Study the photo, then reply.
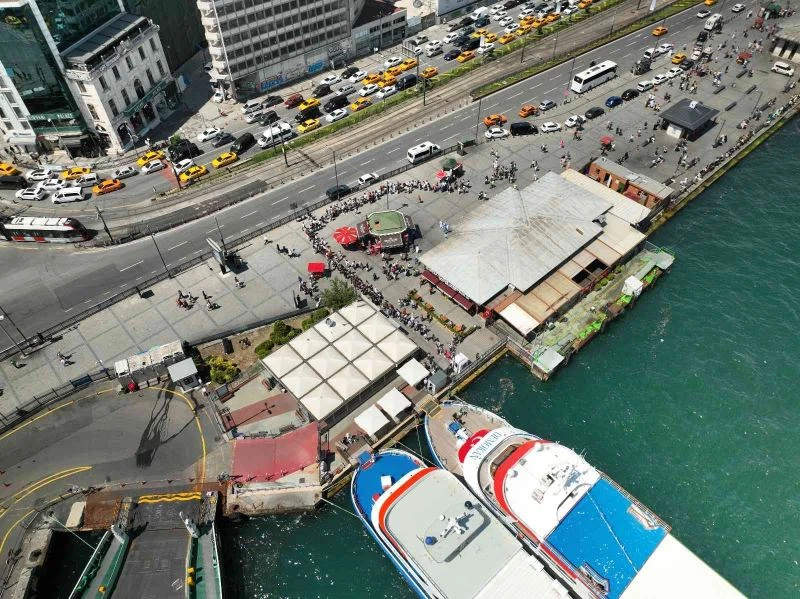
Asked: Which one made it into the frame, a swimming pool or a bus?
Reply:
bus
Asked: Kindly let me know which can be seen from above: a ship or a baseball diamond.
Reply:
ship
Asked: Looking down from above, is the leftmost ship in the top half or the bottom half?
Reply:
bottom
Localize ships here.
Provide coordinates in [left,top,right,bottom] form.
[412,393,766,599]
[62,497,228,599]
[350,443,564,599]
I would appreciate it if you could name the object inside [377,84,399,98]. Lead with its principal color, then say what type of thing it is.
white car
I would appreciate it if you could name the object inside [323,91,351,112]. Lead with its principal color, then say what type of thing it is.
black vehicle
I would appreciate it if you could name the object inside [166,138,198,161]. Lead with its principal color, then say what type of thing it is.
black vehicle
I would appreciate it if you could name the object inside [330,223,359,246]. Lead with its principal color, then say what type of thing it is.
red umbrella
